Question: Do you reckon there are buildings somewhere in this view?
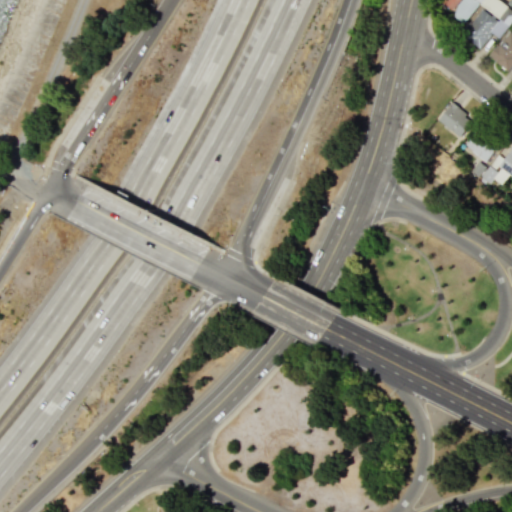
Yes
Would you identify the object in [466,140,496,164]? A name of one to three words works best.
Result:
house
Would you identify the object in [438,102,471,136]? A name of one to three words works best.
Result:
house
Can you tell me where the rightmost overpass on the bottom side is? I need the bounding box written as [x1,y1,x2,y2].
[254,280,342,346]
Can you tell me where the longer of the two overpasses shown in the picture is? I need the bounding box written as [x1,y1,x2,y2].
[66,175,212,280]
